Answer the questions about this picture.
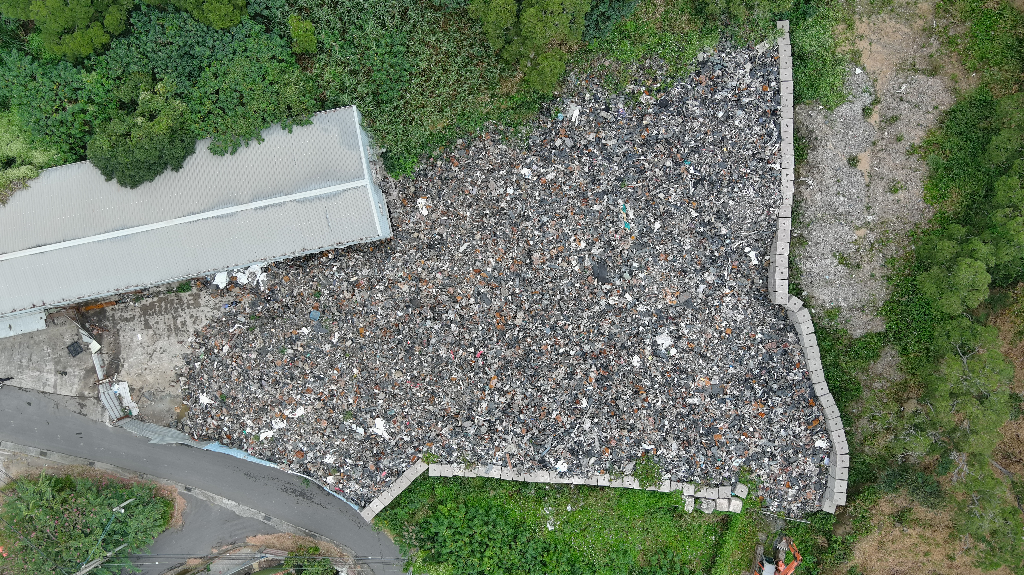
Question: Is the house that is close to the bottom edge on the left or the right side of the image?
left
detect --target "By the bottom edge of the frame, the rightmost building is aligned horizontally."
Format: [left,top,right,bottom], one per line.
[228,546,294,575]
